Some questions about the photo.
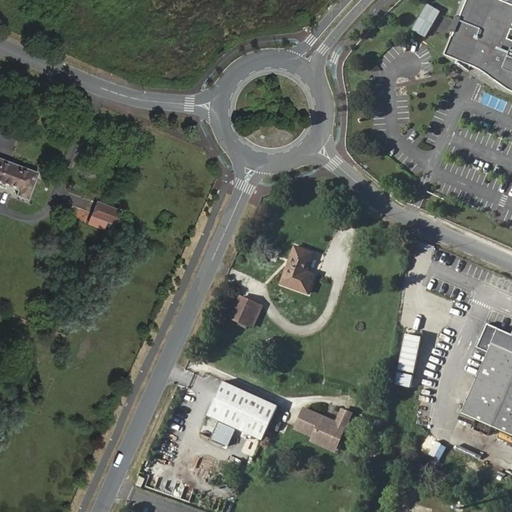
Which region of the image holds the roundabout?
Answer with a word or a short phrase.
top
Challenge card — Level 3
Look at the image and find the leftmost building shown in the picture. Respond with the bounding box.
[0,156,40,204]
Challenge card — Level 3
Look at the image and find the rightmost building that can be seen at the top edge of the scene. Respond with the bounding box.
[442,0,512,95]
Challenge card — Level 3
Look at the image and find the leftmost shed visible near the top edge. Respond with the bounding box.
[412,4,440,38]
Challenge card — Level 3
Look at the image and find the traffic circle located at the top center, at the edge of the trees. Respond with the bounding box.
[180,38,346,194]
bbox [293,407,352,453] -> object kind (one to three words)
house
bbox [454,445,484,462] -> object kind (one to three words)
vehicle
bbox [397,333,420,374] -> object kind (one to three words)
building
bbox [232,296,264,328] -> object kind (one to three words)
barn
